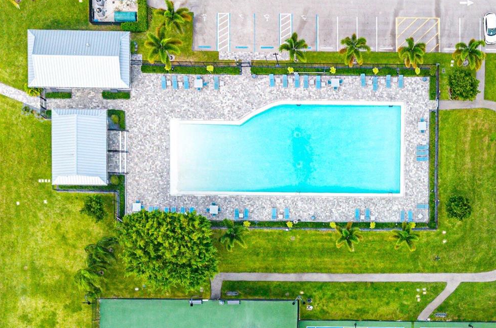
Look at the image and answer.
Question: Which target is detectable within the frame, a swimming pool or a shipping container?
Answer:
swimming pool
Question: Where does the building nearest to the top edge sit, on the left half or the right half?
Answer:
left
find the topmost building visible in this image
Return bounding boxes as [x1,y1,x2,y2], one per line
[27,29,132,90]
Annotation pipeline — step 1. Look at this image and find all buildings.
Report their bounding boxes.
[51,108,110,186]
[27,29,132,90]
